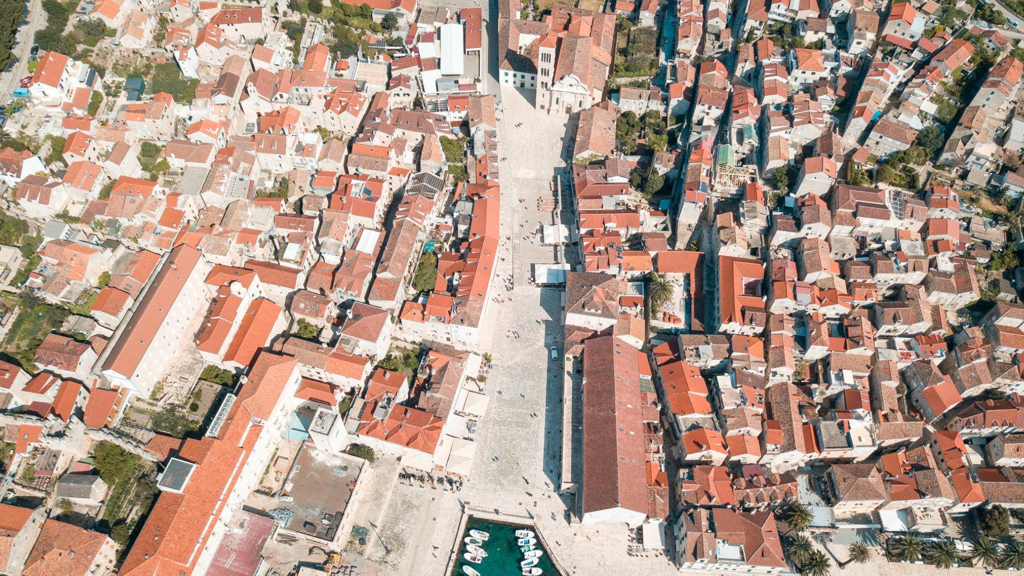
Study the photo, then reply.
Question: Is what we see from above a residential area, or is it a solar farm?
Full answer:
What you see here is a residential area.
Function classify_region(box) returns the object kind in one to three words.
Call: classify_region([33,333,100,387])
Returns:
house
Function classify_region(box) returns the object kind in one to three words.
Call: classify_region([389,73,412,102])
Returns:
house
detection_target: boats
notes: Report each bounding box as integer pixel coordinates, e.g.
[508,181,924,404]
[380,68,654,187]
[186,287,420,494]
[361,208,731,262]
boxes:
[520,549,547,560]
[465,545,489,559]
[516,538,540,546]
[517,545,537,554]
[520,567,547,576]
[469,530,492,541]
[462,537,485,547]
[458,553,485,564]
[458,564,484,576]
[512,529,536,538]
[518,555,545,569]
